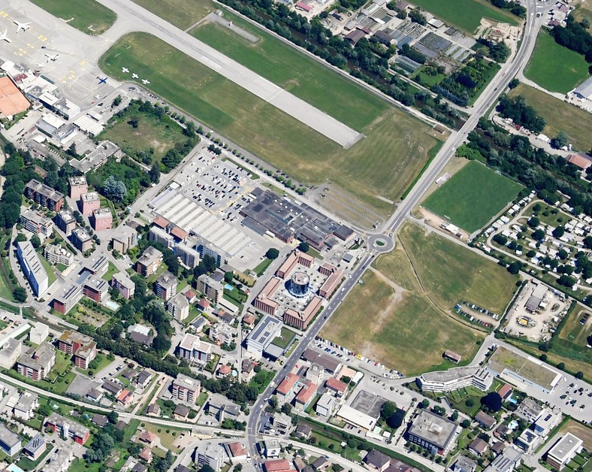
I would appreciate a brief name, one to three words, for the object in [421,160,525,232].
soccer field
